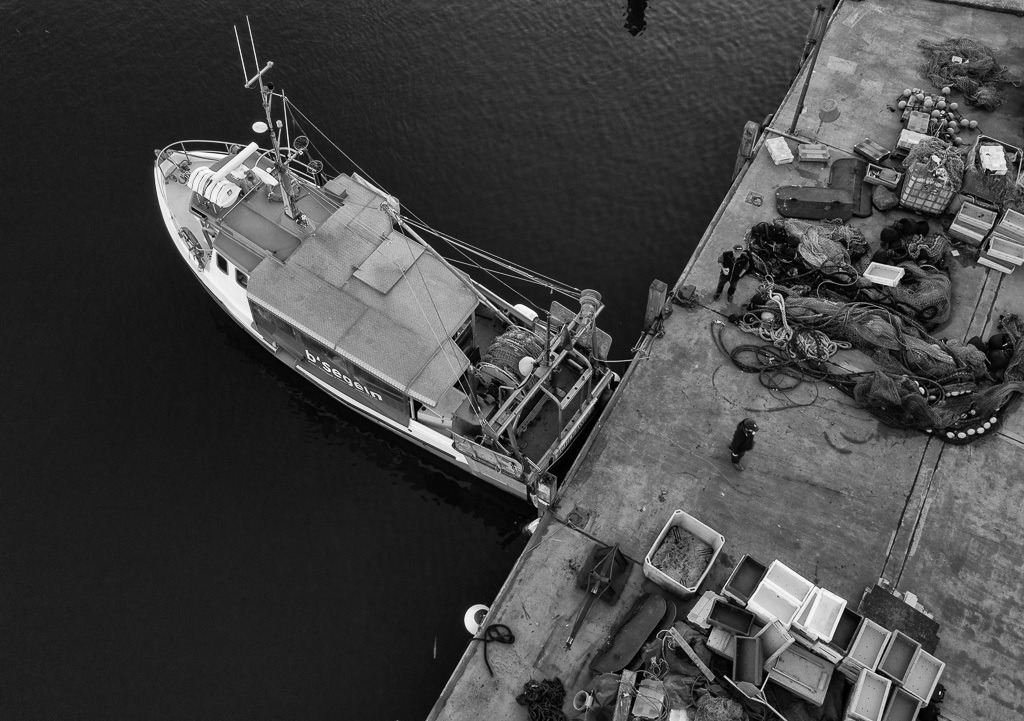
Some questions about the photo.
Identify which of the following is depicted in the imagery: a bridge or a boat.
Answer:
boat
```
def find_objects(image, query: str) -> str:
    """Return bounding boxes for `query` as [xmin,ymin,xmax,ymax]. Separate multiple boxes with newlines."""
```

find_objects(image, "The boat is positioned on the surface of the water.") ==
[147,17,628,499]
